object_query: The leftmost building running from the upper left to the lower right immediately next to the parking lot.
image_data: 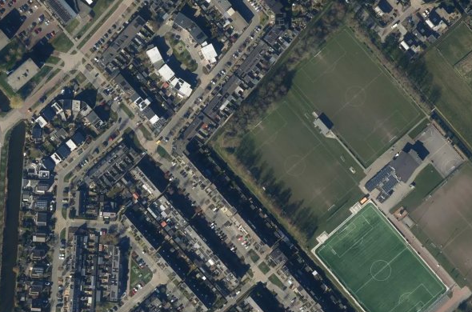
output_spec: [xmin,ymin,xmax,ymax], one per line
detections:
[45,0,78,28]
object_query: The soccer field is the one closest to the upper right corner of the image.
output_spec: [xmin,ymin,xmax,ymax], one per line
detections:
[289,26,422,165]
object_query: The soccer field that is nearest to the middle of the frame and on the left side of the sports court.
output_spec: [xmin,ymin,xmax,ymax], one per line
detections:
[239,90,366,225]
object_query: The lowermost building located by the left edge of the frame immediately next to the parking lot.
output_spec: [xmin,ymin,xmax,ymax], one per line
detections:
[5,57,41,91]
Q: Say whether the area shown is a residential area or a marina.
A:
residential area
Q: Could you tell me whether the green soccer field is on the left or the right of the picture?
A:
right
